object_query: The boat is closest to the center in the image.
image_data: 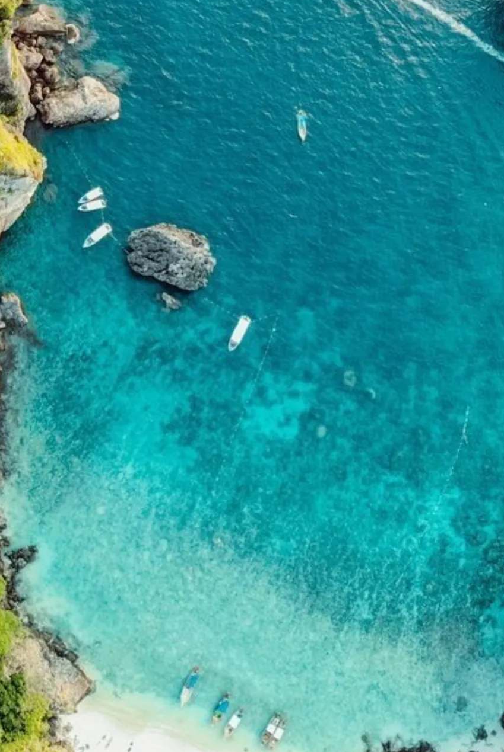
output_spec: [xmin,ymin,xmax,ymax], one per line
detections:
[229,314,251,350]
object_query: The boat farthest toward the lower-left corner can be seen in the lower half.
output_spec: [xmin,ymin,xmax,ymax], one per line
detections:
[181,662,201,706]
